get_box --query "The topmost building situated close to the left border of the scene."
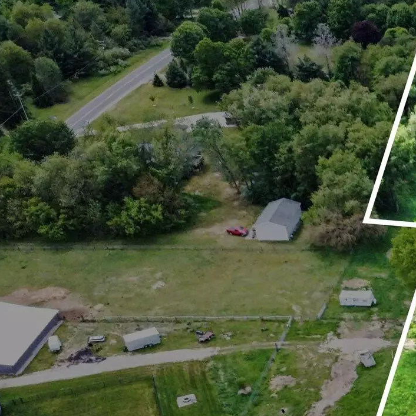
[0,301,72,380]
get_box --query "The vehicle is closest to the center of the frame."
[222,224,251,237]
